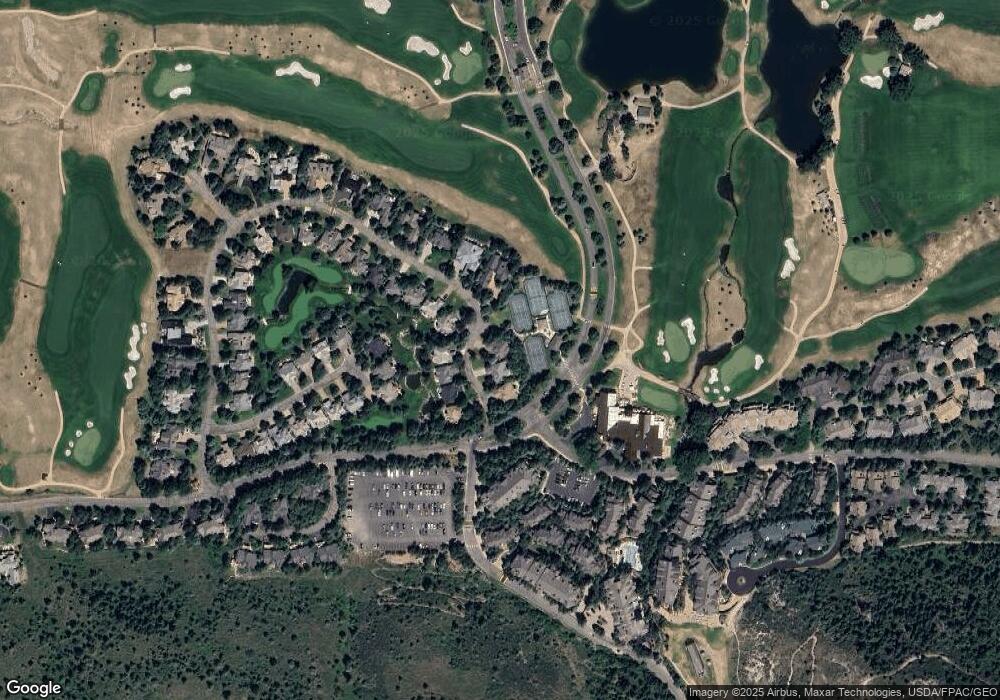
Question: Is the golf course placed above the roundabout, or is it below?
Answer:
above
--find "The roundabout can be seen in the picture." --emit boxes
[728,567,757,596]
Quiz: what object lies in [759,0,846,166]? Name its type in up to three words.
pond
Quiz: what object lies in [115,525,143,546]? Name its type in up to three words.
house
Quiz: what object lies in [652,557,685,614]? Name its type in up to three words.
building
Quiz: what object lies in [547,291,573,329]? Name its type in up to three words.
tennis court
